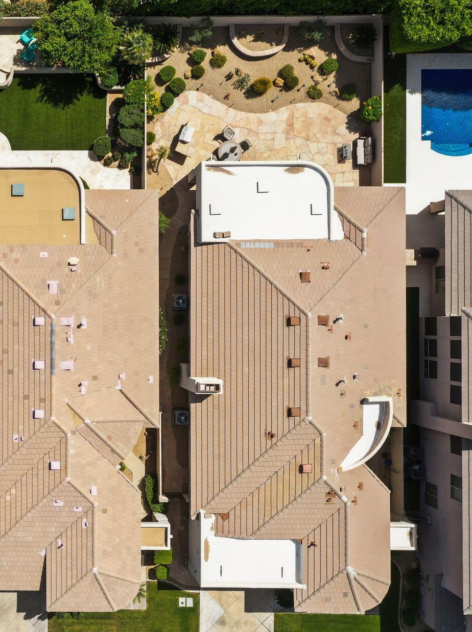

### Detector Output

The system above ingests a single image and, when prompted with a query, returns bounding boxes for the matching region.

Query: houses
[411,189,472,632]
[0,155,174,614]
[180,153,419,613]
